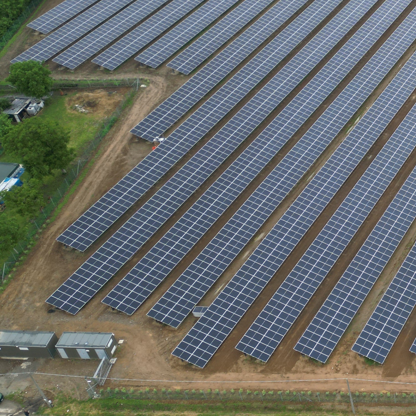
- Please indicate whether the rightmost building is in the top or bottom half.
bottom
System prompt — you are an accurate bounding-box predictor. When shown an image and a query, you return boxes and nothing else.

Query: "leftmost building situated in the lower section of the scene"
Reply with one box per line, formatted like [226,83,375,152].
[0,330,58,359]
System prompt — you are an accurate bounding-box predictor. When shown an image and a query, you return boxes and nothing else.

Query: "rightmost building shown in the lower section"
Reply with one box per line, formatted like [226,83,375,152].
[55,332,119,360]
